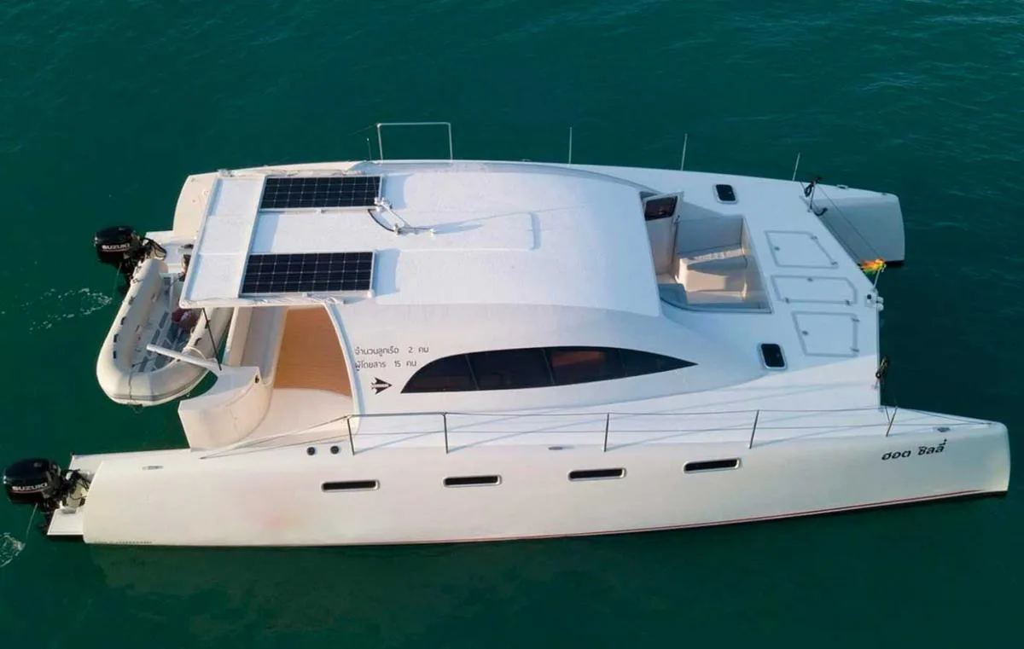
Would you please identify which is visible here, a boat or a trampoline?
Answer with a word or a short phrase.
boat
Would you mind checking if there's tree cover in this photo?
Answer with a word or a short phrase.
No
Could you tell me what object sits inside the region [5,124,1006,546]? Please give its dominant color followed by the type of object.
white boat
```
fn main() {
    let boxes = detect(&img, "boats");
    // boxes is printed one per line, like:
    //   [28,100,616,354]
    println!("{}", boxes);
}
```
[5,124,1006,546]
[98,254,233,438]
